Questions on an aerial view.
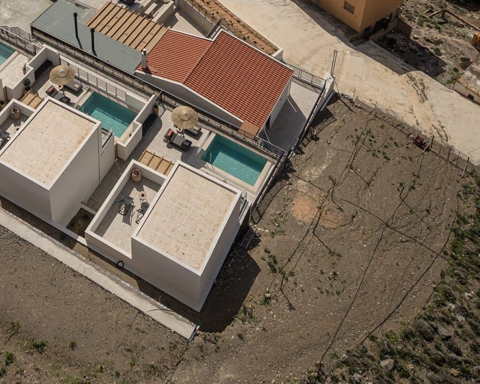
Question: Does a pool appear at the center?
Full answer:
Yes, a pool shows up at the center.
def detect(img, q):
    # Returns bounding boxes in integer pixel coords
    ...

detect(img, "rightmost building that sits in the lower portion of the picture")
[80,148,246,314]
